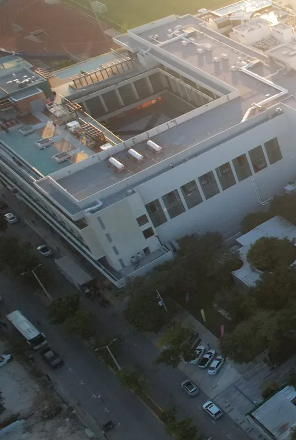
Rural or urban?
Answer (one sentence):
It looks urban.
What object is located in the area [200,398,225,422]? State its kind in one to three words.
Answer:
car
